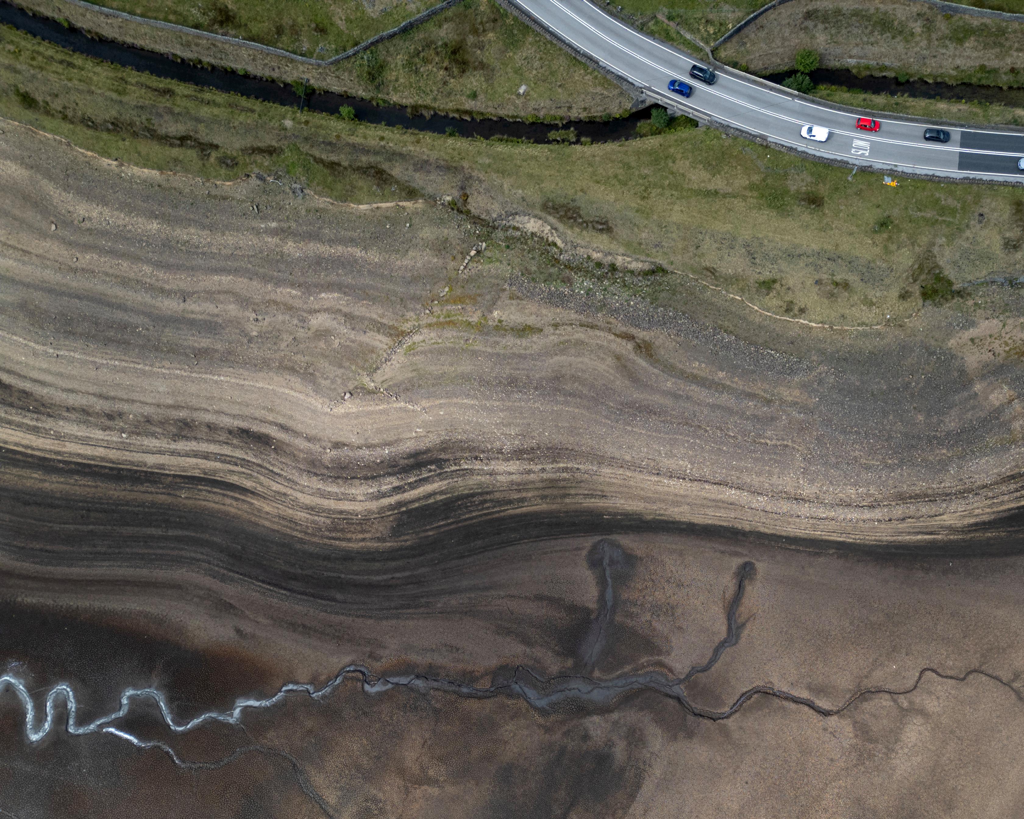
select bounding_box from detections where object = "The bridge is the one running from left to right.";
[635,69,801,125]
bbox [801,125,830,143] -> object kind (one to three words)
vehicle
